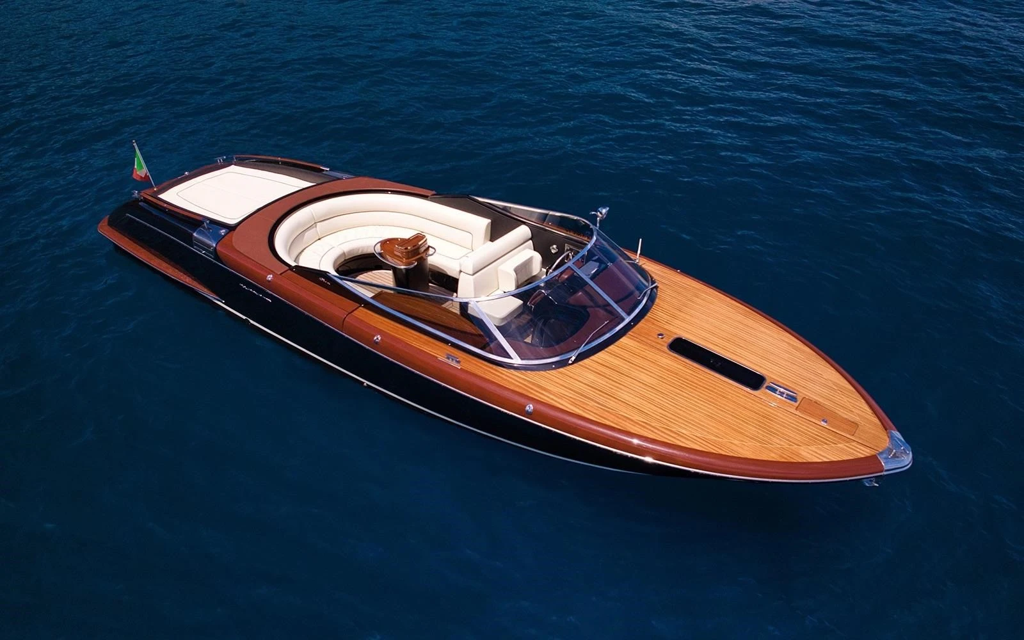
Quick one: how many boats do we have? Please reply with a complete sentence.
The count comes to 1 boat.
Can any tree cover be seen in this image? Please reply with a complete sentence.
No, the picture contains no tree cover.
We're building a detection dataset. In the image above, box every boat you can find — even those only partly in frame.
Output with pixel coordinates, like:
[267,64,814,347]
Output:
[98,149,915,494]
